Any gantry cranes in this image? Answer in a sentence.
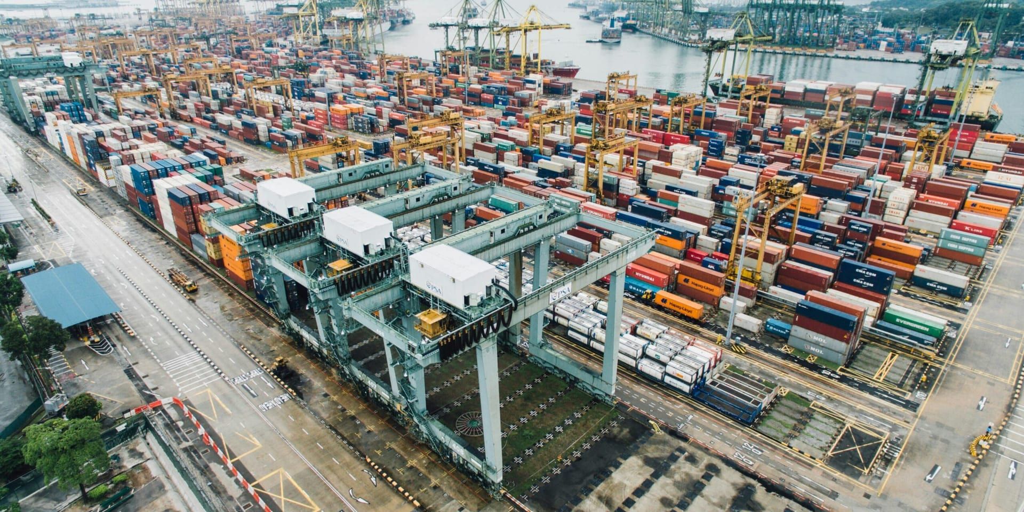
Yes, there is a gantry crane in the image.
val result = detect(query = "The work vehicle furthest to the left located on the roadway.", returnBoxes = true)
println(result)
[2,181,29,193]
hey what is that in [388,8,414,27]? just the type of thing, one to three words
ship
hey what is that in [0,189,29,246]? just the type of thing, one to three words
shed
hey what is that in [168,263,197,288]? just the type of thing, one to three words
truck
